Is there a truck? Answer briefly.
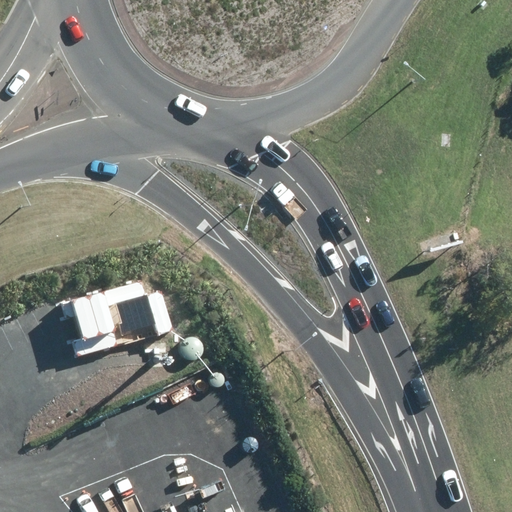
Yes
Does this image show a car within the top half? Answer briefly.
Yes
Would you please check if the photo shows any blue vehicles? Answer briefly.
Yes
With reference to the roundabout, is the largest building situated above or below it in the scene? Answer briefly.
below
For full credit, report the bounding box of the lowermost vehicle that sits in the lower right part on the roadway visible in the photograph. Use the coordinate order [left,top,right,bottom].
[443,470,462,503]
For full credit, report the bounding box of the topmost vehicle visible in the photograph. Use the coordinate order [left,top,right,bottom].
[66,15,84,42]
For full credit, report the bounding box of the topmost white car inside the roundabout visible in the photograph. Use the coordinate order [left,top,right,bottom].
[174,94,207,117]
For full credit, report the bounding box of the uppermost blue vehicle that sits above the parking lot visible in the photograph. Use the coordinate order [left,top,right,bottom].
[90,160,118,176]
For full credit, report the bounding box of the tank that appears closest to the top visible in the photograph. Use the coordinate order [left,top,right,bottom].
[176,336,203,362]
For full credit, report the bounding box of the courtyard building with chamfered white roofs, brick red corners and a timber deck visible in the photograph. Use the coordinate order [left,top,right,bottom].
[56,280,172,358]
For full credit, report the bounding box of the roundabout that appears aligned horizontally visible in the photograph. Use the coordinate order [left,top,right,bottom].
[46,0,417,168]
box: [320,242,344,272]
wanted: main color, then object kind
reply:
white car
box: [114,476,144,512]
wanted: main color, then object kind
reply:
white truck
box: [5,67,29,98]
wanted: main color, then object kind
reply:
white car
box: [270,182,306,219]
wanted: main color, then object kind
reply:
white truck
